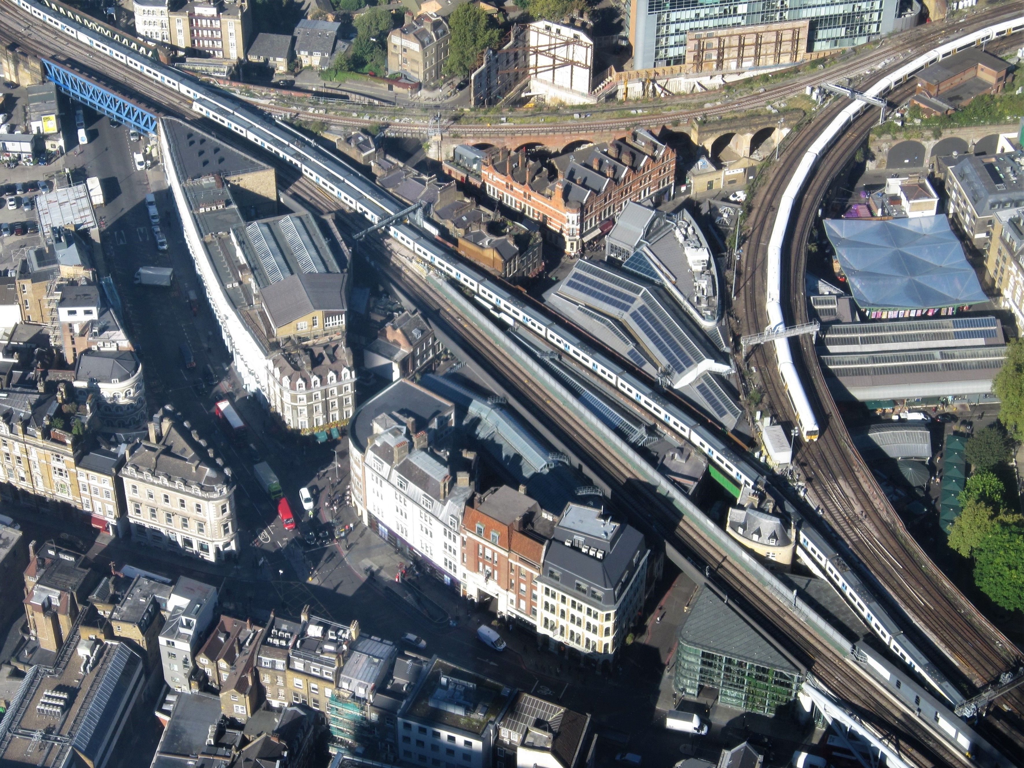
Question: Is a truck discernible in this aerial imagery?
Yes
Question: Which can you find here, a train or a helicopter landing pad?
train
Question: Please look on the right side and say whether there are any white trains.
Yes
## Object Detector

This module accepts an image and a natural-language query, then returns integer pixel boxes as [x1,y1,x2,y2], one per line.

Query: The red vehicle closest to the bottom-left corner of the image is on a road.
[278,493,294,522]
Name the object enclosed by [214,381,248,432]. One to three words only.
bus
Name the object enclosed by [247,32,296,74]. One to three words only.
house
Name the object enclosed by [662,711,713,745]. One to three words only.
truck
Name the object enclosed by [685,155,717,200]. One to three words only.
building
